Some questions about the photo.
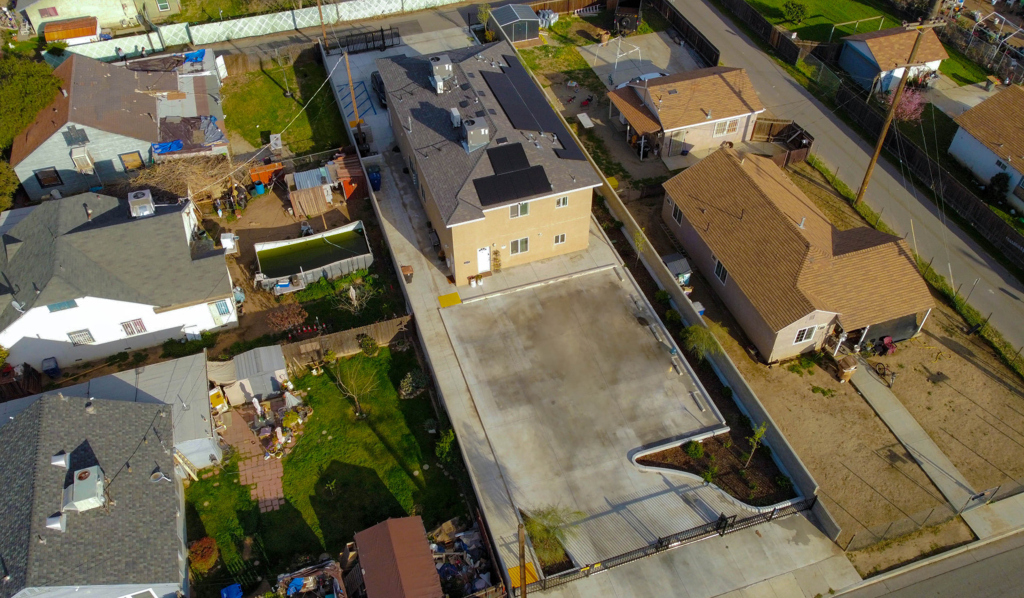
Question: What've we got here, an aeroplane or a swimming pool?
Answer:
swimming pool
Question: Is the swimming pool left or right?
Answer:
left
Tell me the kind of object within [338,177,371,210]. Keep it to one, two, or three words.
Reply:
shed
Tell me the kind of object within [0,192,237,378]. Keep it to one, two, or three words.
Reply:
house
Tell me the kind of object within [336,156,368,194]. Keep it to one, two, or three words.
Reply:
shed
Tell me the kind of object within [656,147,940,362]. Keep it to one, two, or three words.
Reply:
house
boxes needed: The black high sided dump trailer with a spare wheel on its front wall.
[595,0,638,36]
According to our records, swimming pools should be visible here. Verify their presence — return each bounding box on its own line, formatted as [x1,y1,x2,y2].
[254,220,376,294]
